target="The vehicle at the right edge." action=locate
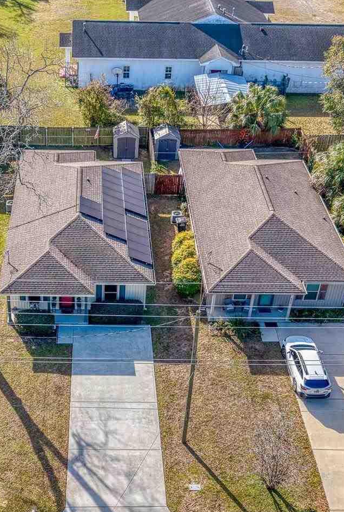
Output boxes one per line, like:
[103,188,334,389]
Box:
[286,339,335,399]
